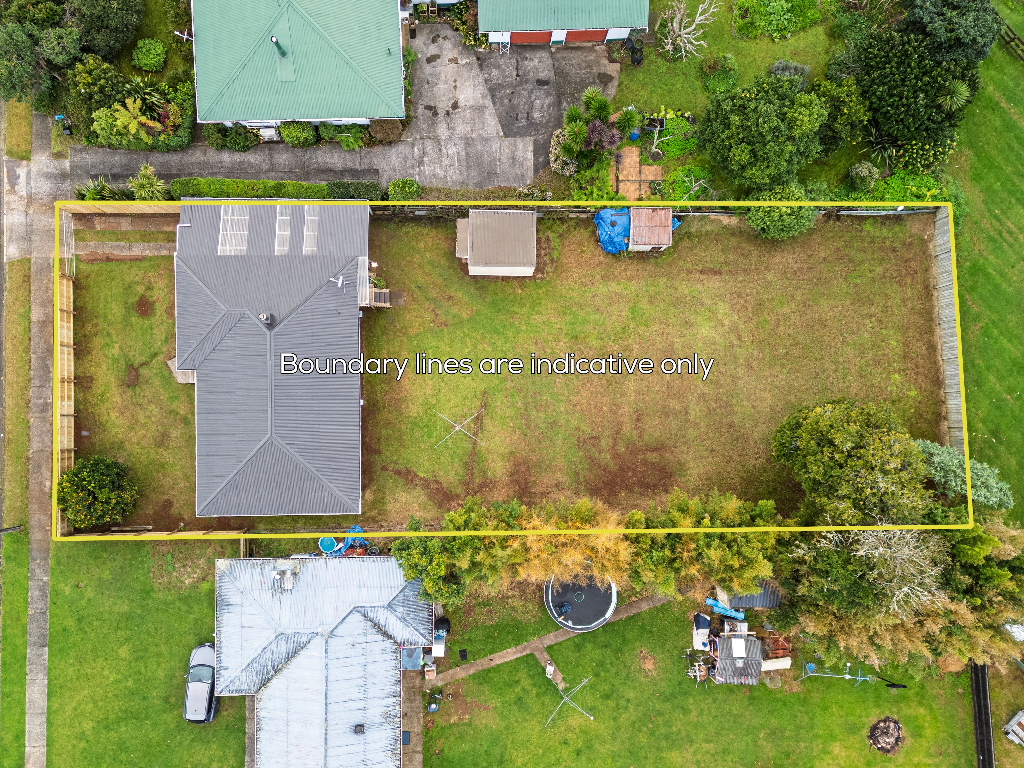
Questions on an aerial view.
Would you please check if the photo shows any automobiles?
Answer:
Yes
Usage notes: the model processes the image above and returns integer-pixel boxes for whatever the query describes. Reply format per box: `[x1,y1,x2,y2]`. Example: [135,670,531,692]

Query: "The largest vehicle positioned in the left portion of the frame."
[180,643,220,728]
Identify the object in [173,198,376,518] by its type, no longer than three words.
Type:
house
